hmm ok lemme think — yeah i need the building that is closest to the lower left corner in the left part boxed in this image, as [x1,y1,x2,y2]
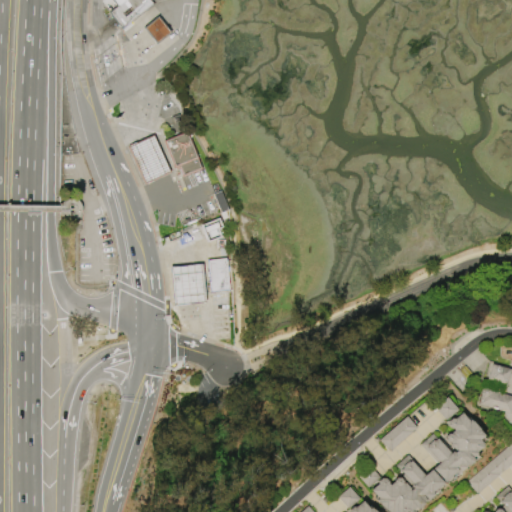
[173,262,208,304]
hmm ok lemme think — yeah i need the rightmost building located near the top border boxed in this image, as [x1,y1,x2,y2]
[147,18,172,42]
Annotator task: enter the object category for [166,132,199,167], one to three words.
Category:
building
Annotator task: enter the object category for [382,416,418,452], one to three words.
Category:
building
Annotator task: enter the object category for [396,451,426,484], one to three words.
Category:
house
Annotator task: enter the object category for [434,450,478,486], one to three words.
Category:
house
